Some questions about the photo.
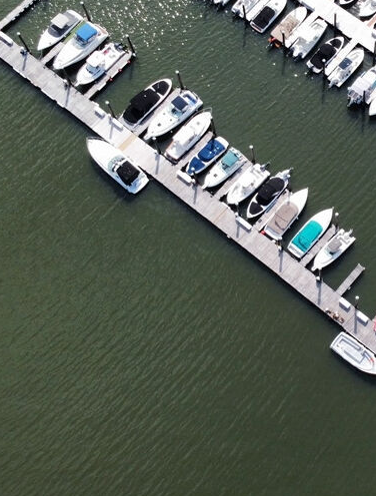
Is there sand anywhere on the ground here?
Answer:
No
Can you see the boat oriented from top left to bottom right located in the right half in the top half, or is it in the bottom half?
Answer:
bottom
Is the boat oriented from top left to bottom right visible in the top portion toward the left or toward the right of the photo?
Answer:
left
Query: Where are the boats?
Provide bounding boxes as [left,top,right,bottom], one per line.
[331,333,376,374]
[86,136,155,199]
[161,112,211,169]
[355,0,376,16]
[250,0,287,35]
[121,78,171,130]
[220,164,271,203]
[138,92,206,148]
[244,174,287,218]
[290,18,328,59]
[48,22,111,76]
[33,11,84,51]
[327,44,363,89]
[308,35,343,74]
[309,230,355,273]
[182,135,232,174]
[66,44,126,90]
[260,187,308,241]
[284,209,332,263]
[232,0,261,19]
[351,65,376,101]
[197,149,247,195]
[271,5,307,44]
